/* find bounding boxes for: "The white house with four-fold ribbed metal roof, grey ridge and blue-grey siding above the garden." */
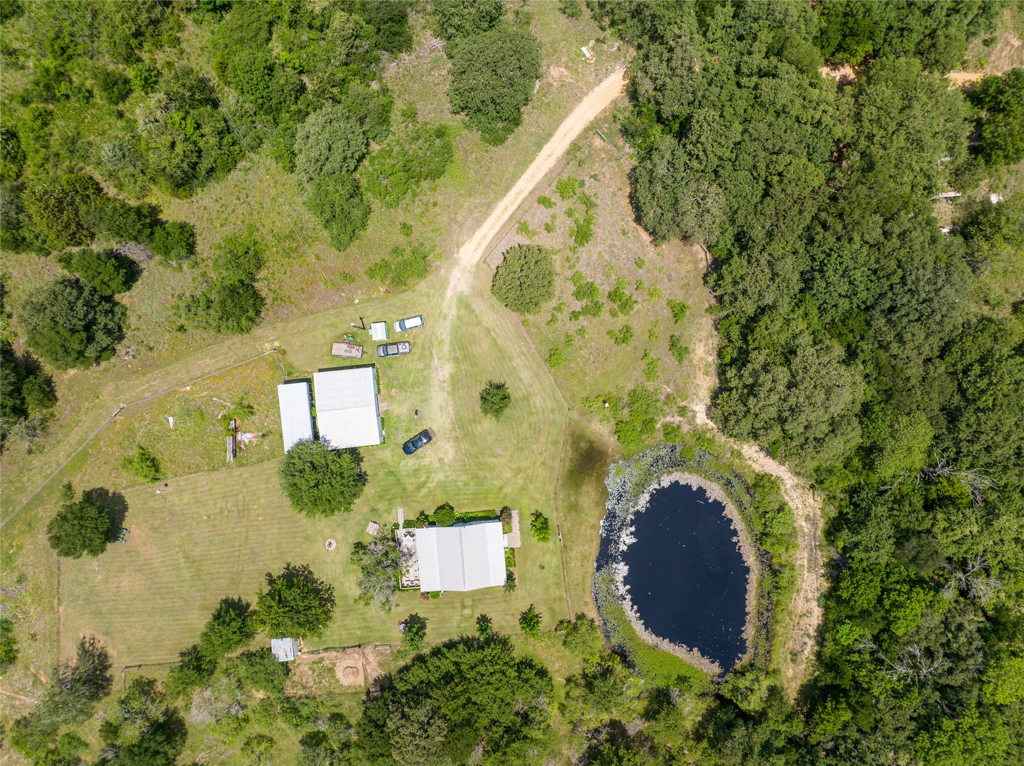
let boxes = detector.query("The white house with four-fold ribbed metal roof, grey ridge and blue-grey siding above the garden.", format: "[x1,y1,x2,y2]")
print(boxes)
[415,521,506,592]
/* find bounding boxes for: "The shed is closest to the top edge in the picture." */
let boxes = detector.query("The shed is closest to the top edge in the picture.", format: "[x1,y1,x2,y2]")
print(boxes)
[371,322,390,341]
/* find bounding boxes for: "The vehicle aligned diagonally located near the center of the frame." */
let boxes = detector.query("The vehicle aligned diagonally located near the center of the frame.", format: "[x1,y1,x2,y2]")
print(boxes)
[403,427,438,455]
